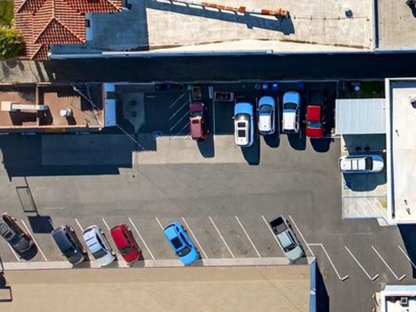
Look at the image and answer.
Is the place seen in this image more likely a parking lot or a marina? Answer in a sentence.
This image shows a parking lot.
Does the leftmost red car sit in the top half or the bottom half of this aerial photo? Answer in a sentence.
The leftmost red car sits in the bottom half of the picture.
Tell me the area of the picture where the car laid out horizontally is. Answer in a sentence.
The car laid out horizontally sits in the right section of the image.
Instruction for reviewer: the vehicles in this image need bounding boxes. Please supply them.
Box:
[164,221,199,264]
[80,224,117,267]
[186,102,210,140]
[339,153,384,175]
[0,212,35,260]
[255,96,277,135]
[51,224,87,266]
[280,91,301,133]
[109,223,143,265]
[268,214,306,262]
[231,103,254,147]
[304,103,325,138]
